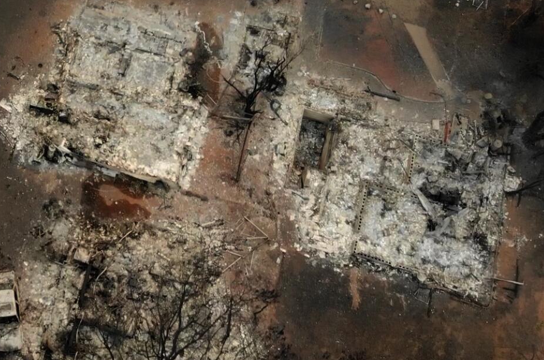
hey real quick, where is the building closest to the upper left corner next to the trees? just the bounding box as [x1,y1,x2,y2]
[0,0,226,201]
